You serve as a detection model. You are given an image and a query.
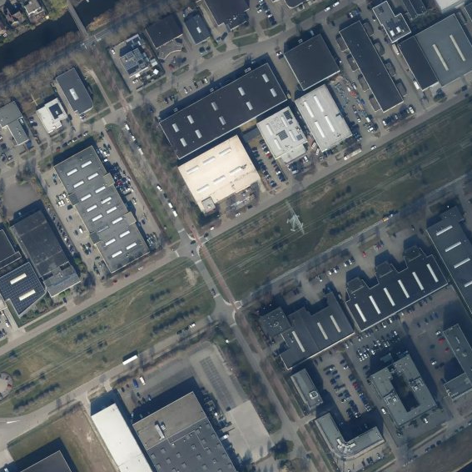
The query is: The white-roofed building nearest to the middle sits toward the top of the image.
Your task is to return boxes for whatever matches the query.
[177,135,260,214]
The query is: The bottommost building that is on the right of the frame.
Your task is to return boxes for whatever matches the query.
[314,413,386,458]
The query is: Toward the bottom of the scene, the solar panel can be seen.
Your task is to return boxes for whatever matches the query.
[0,265,44,314]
